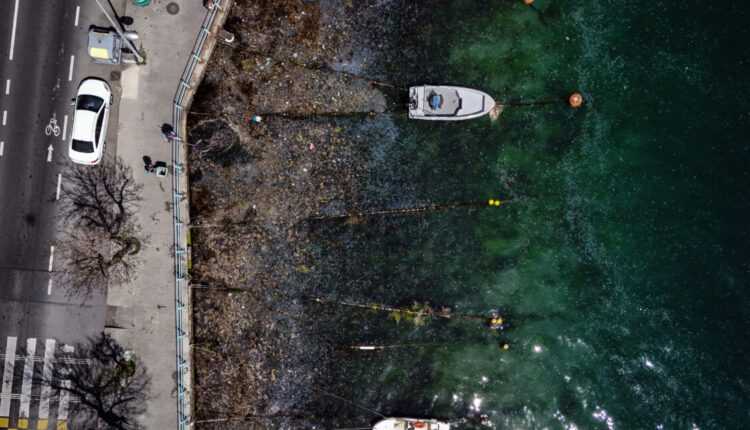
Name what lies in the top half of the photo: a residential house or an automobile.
automobile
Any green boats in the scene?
No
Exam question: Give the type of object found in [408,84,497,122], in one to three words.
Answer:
boat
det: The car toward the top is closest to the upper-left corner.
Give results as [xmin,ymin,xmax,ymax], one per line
[66,75,116,166]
